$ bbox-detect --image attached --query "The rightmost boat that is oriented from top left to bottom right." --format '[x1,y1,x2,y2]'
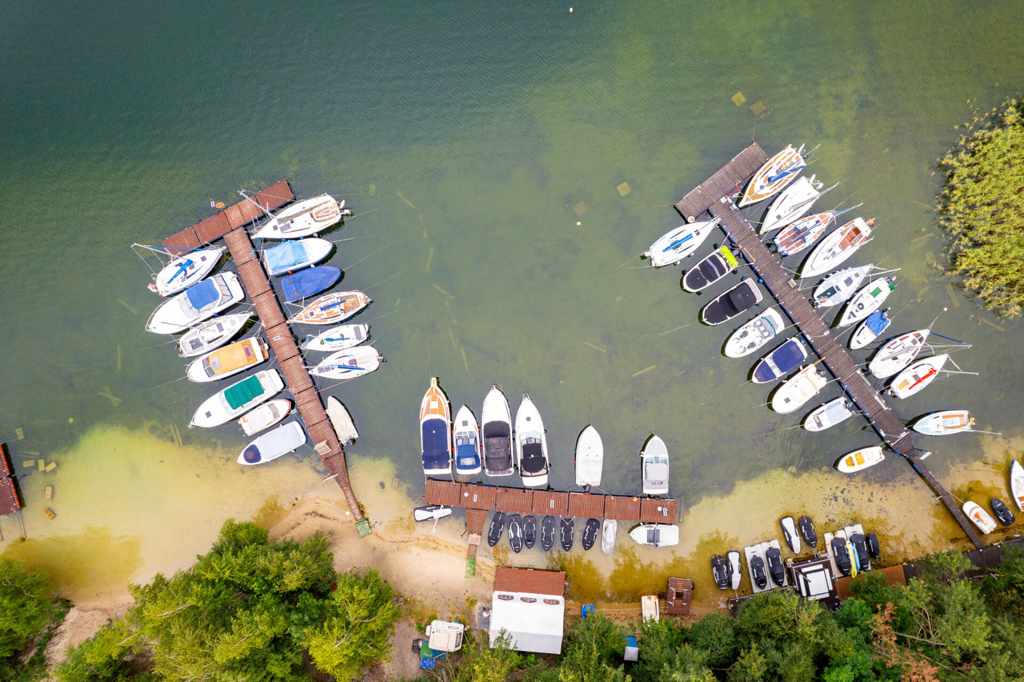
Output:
[951,493,997,535]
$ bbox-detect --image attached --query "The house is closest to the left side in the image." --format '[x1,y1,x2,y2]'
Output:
[489,566,567,656]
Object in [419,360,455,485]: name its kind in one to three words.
boat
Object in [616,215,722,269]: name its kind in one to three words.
boat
